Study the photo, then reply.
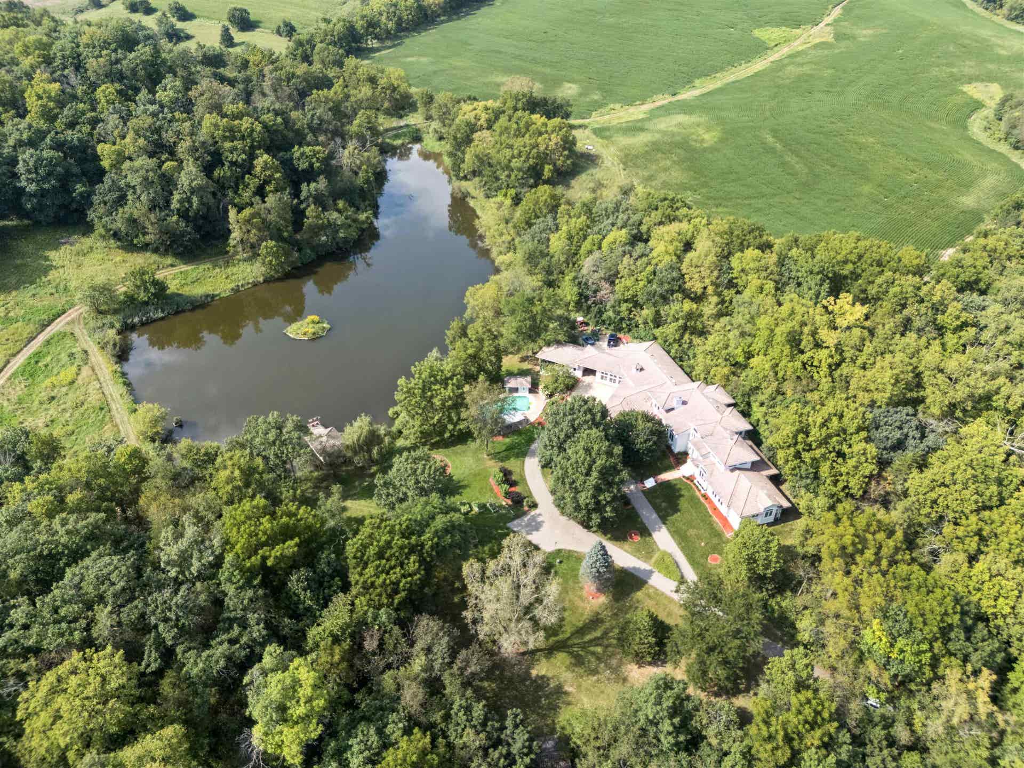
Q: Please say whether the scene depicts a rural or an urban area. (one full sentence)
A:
The land in this view is best described as rural.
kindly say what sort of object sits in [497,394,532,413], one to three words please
swimming pool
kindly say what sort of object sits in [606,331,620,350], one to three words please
car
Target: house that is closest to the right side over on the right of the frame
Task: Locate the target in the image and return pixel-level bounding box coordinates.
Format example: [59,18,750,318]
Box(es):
[535,340,788,527]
